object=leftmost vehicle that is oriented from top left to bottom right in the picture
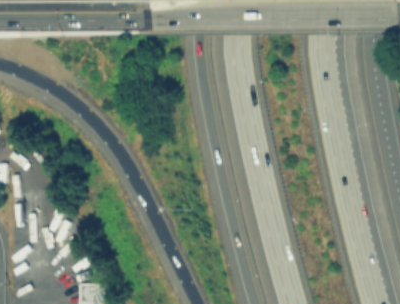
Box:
[10,150,34,172]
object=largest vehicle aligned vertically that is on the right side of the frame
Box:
[250,146,262,166]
